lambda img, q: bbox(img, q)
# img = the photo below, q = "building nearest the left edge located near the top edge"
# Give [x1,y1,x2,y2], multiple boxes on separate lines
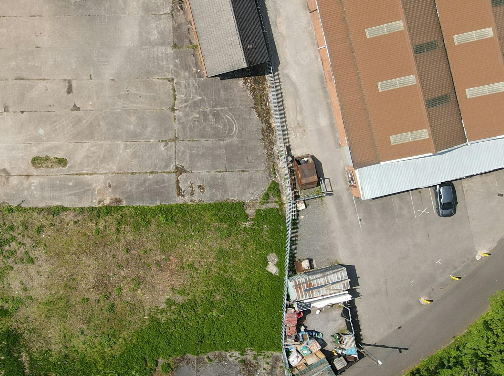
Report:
[185,0,270,78]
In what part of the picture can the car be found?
right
